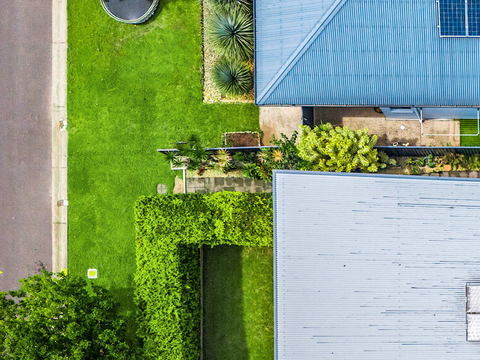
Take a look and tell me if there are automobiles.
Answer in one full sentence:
No, there appears to be no automobile in this shot.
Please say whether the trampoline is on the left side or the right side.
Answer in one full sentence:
It is on the left.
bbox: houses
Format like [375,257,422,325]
[275,169,480,360]
[252,0,480,122]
